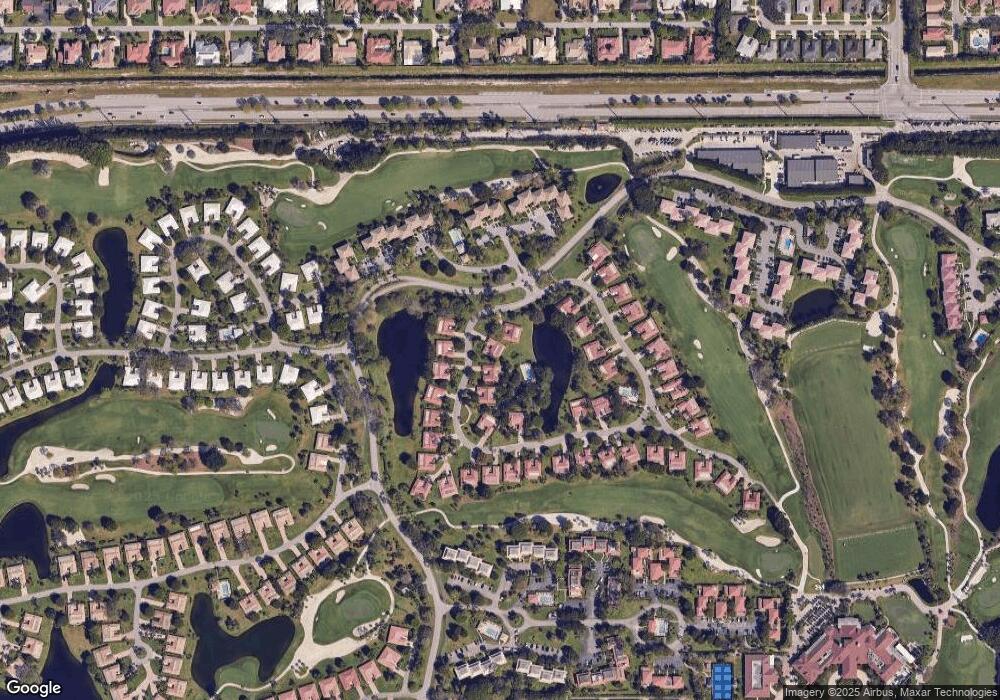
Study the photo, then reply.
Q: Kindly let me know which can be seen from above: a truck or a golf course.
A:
golf course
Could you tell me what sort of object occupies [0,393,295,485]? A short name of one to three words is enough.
golf course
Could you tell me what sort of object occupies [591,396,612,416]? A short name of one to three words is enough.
house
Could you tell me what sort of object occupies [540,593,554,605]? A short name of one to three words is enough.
swimming pool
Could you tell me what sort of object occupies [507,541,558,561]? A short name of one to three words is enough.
building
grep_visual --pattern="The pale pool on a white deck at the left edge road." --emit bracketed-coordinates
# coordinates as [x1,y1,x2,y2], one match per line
[4,330,22,356]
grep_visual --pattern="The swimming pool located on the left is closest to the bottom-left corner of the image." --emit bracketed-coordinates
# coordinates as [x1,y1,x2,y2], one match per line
[218,579,231,598]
